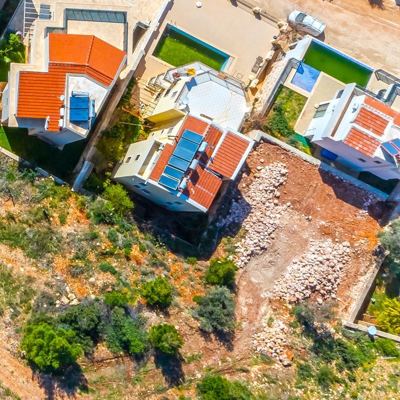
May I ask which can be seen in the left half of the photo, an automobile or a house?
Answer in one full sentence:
Visible in the left half of the photo is a house.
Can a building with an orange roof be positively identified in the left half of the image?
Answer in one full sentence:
Yes, looking in the left half of the image, one can make out a building with an orange roof.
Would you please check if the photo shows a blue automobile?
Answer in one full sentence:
No, I can see no blue automobile in this picture.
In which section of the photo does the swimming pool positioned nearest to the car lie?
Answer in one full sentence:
You can find the swimming pool positioned nearest to the car in the top right area of the picture.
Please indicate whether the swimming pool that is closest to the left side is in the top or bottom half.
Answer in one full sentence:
It is in the top half that the swimming pool that is closest to the left side appears.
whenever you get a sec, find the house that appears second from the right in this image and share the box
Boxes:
[117,61,256,223]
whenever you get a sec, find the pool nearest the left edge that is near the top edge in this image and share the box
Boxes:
[147,18,234,74]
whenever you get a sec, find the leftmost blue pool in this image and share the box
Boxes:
[286,60,324,98]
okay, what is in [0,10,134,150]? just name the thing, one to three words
house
